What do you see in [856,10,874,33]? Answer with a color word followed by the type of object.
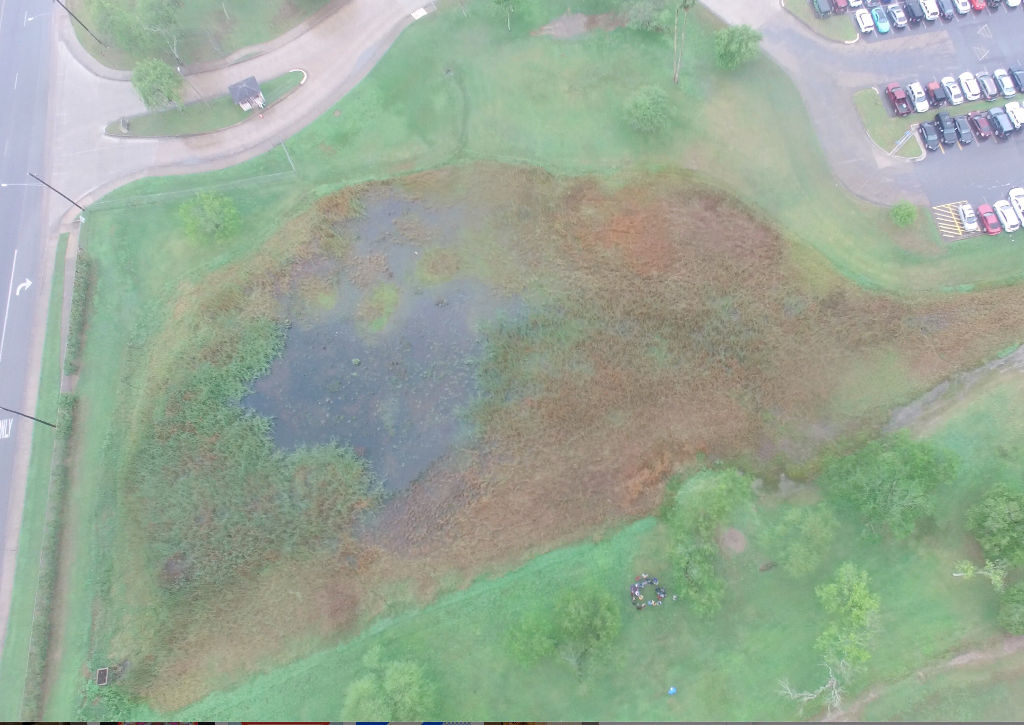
white car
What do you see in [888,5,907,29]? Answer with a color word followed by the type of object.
white car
